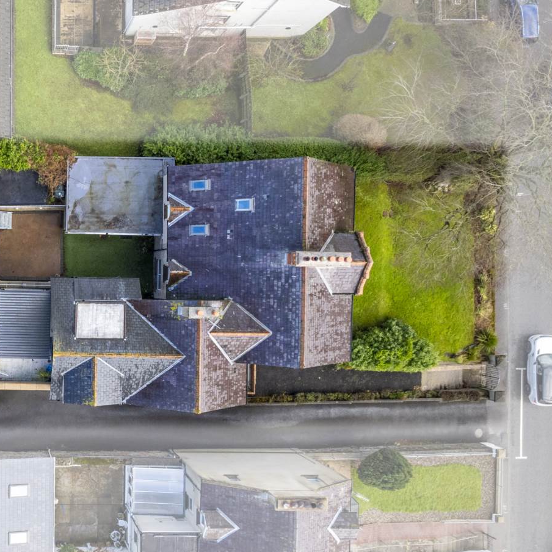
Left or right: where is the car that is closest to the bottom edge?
right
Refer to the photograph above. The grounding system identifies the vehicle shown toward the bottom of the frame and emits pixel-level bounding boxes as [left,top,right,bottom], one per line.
[523,334,552,405]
